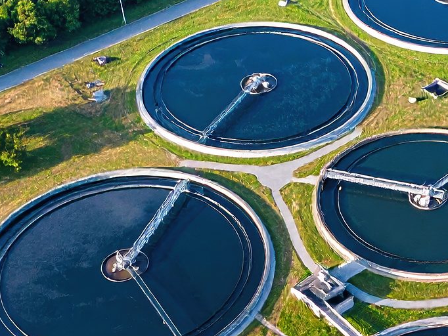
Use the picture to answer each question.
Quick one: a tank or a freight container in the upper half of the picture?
tank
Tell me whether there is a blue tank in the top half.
Yes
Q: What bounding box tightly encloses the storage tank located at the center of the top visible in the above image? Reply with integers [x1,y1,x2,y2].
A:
[139,24,375,159]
